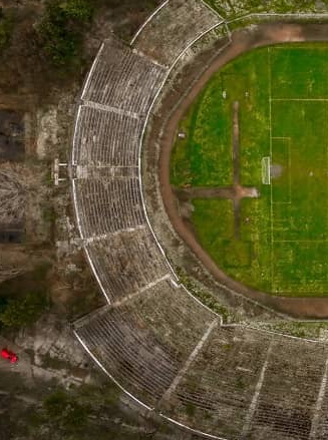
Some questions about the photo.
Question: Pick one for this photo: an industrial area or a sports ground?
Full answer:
What you see here is a sports ground.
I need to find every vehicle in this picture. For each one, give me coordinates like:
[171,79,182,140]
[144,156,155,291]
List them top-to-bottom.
[1,348,18,361]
